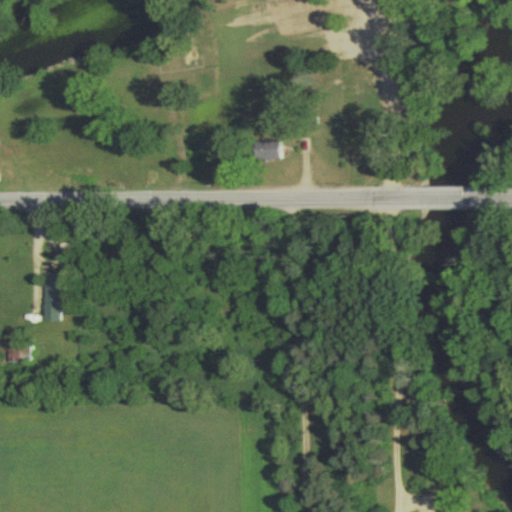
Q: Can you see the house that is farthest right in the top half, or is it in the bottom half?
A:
top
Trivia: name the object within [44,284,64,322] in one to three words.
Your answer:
house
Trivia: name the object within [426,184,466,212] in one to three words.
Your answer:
bridge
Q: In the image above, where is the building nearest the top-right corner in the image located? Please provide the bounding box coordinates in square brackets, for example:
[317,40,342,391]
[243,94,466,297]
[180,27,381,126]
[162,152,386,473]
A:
[254,142,285,162]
